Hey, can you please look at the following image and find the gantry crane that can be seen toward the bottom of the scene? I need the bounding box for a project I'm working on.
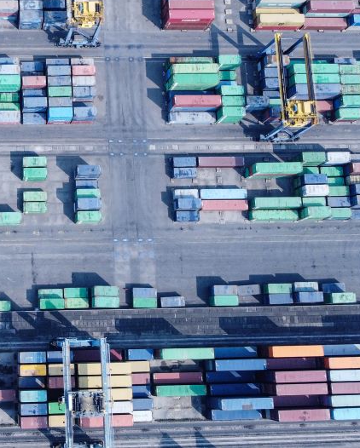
[49,339,117,448]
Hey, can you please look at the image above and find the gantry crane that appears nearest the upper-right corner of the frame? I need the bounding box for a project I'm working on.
[247,30,324,143]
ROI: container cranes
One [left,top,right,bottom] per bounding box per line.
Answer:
[52,0,105,49]
[247,30,324,143]
[49,339,117,448]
